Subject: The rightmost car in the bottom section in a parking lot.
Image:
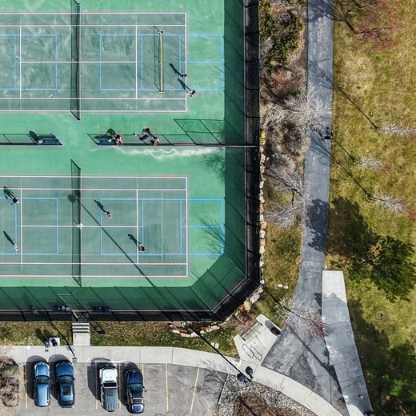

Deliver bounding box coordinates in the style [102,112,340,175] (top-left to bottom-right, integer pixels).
[123,369,145,415]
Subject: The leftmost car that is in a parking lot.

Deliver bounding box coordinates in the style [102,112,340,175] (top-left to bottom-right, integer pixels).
[34,365,53,409]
